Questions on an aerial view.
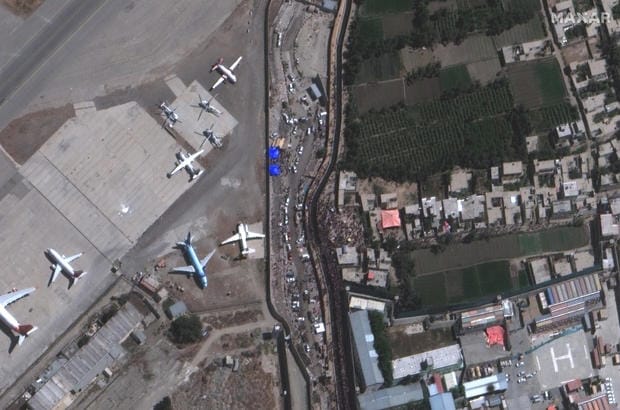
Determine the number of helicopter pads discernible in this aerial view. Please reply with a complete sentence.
In total, 1 helicopter pad can be seen.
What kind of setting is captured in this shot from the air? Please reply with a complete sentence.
The picture captures an airport.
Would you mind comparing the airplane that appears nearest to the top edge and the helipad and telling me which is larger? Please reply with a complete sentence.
It is the helipad that is larger, not the airplane.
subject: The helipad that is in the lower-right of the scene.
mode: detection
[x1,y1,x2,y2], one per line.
[531,336,596,389]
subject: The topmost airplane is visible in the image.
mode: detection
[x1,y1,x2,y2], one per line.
[212,59,243,88]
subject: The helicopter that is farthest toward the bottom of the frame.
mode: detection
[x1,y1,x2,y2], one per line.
[199,124,223,147]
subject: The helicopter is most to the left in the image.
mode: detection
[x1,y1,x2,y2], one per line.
[158,101,183,127]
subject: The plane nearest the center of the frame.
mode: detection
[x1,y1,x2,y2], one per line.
[223,223,267,254]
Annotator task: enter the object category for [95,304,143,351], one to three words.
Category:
shed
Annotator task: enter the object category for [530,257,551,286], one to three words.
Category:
building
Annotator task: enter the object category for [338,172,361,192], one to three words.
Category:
house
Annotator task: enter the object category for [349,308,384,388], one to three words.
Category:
building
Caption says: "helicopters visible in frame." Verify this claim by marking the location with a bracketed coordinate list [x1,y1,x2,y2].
[199,124,223,147]
[158,101,183,127]
[193,96,223,119]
